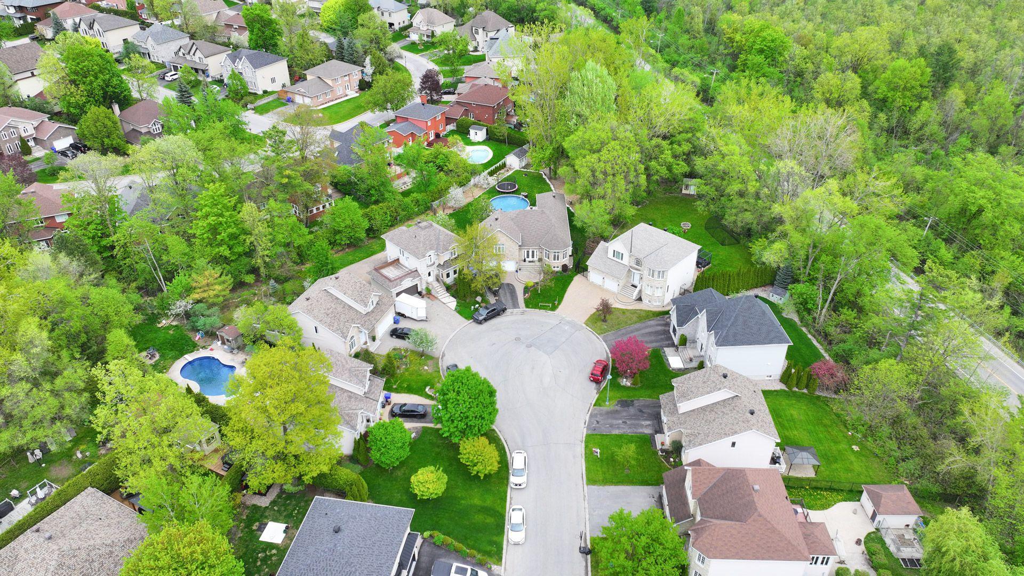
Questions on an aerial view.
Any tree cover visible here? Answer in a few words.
Yes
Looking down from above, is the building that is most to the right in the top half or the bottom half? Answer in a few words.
bottom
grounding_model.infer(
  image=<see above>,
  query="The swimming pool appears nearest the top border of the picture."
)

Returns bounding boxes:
[468,147,491,163]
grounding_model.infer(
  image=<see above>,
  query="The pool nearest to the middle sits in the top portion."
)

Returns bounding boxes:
[489,195,531,209]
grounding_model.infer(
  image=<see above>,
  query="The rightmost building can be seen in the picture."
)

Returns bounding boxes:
[858,484,923,530]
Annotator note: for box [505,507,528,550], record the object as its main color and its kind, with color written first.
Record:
white car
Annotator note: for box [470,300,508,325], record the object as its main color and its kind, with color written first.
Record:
gray truck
